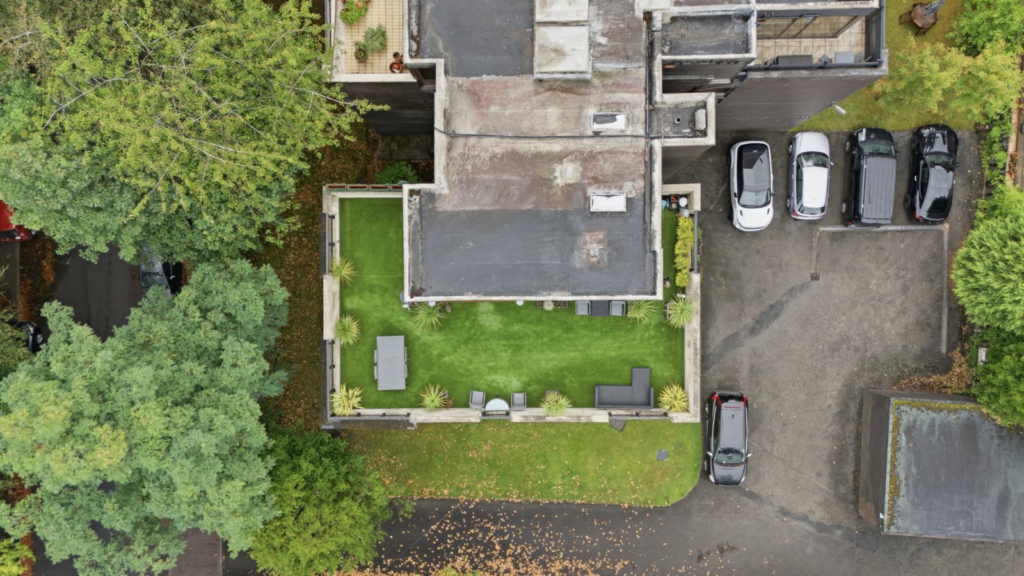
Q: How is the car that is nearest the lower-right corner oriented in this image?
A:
from top to bottom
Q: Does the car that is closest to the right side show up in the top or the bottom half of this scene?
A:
top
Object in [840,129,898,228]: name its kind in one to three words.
car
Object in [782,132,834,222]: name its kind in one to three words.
car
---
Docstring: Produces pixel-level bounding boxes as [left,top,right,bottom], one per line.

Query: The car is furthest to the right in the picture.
[899,125,958,225]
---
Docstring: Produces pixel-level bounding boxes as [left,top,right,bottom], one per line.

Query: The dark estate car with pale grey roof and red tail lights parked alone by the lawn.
[704,390,752,484]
